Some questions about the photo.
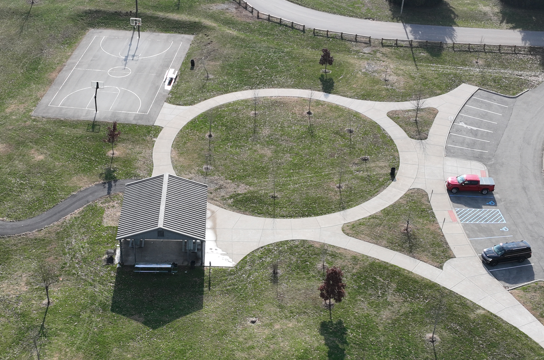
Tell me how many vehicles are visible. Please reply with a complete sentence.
The number of vehicles here is 2.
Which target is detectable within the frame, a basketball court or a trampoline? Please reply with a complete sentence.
The image shows a basketball court.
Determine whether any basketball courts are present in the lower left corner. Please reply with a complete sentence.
No, the scene shows no basketball court in the lower left corner.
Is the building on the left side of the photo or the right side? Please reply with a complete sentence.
It is on the left.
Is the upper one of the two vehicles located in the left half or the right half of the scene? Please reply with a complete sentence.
The upper one of the two vehicles sits on the right side.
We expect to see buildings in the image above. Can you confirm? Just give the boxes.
[116,171,208,263]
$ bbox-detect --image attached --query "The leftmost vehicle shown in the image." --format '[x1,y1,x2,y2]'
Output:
[445,174,495,194]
